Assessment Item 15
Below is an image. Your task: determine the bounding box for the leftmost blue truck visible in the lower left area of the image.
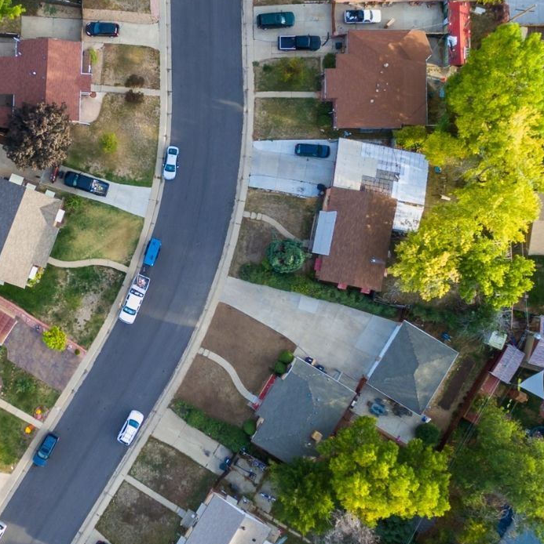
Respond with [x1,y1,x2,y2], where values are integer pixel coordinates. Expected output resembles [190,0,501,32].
[32,430,61,469]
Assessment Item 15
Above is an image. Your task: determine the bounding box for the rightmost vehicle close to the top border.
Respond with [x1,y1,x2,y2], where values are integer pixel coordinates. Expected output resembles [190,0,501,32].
[343,6,382,25]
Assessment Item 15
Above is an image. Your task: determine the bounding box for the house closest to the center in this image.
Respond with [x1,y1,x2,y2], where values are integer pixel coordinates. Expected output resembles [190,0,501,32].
[311,185,395,294]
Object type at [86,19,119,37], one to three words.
car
